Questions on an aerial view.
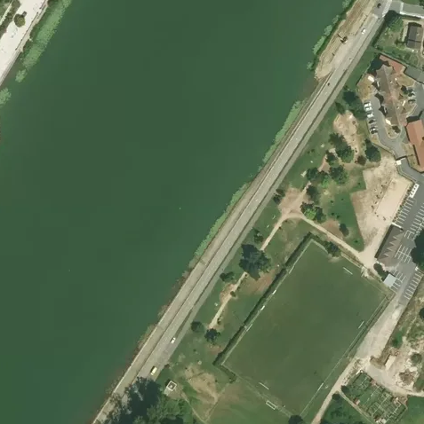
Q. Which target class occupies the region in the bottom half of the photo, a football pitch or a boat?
football pitch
